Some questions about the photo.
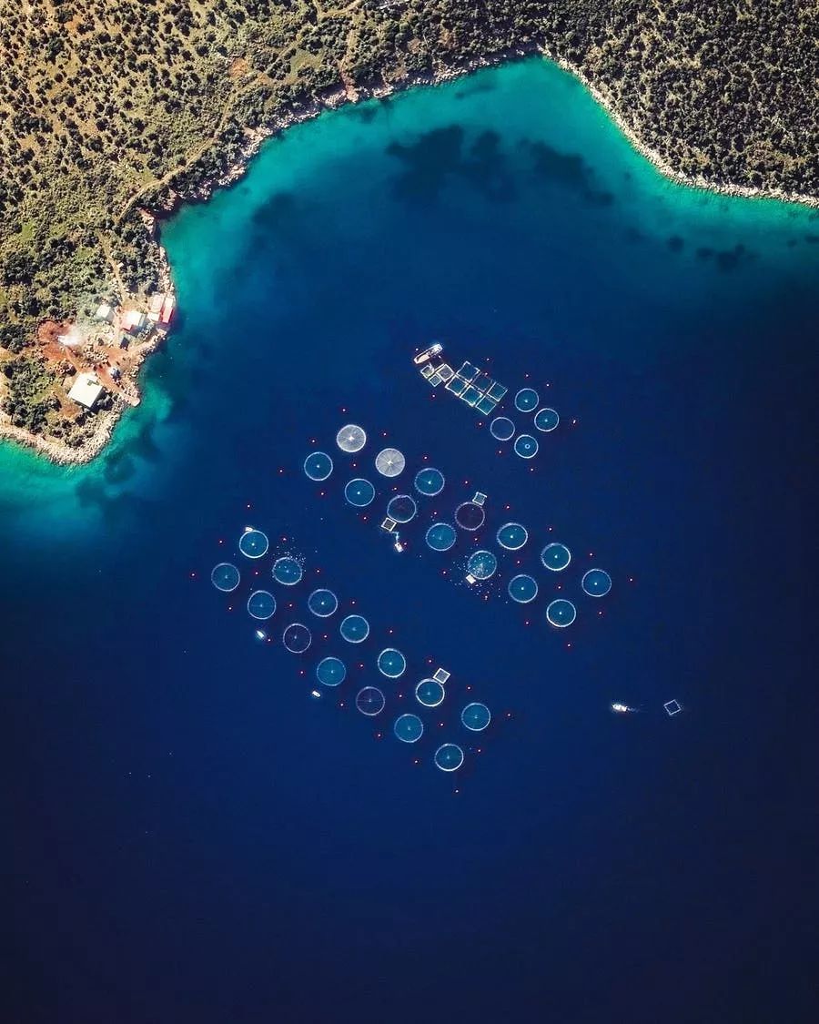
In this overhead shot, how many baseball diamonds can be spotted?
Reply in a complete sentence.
The picture shows no baseball diamonds.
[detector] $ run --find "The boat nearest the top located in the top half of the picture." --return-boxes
[414,343,444,362]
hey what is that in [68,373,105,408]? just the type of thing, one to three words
shed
